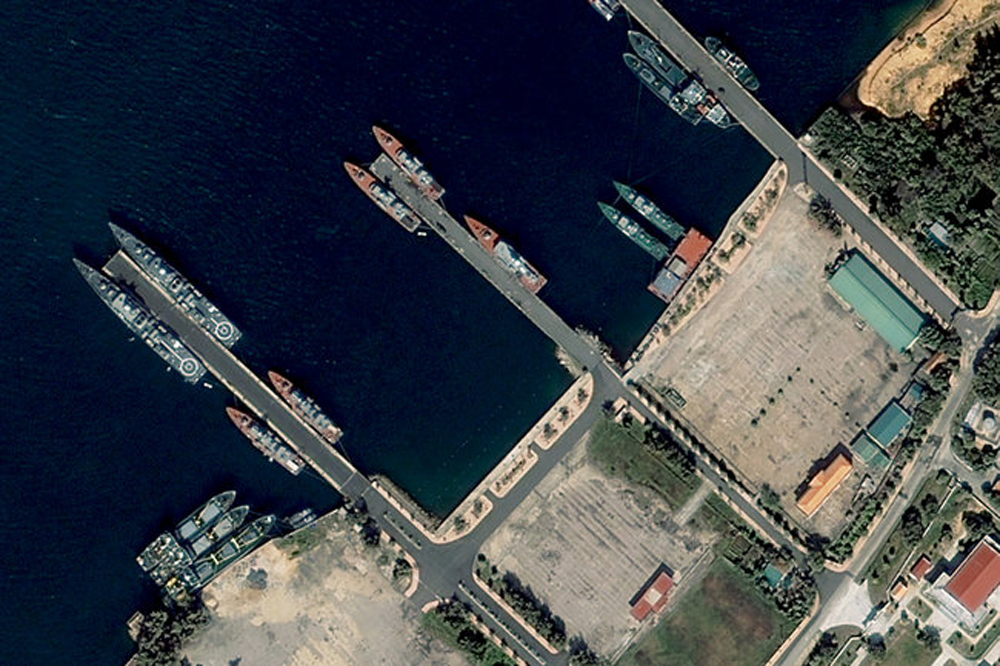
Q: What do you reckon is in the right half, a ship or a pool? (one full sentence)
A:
Visible in the right half is a ship.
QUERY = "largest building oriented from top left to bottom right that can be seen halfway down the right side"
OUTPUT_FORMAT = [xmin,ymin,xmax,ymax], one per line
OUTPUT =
[829,250,929,351]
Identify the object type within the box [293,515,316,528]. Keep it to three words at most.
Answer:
boat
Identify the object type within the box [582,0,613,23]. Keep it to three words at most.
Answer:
boat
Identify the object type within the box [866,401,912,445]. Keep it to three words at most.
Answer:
shed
